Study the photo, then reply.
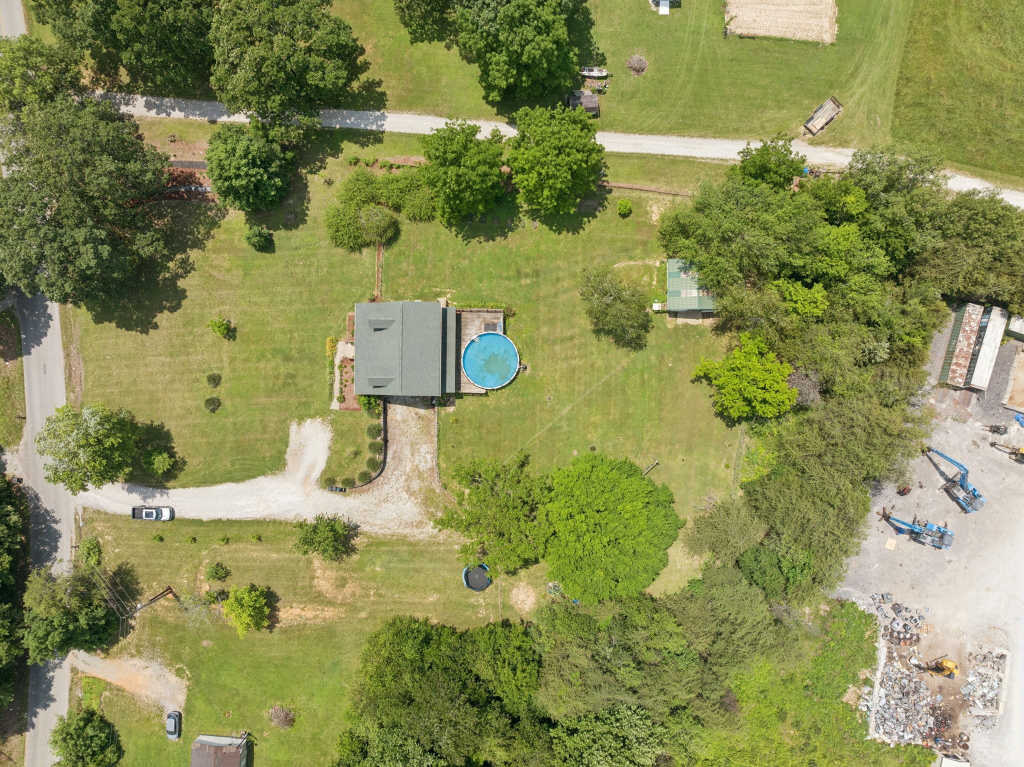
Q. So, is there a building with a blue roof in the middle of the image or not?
No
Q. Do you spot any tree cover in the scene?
Yes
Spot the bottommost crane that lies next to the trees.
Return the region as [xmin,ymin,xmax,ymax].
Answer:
[872,510,963,554]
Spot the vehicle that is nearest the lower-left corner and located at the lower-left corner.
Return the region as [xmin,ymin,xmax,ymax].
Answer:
[164,709,182,740]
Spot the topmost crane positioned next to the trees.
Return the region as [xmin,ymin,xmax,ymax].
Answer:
[920,435,988,518]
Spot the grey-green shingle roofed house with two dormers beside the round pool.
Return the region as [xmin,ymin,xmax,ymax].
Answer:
[352,300,456,396]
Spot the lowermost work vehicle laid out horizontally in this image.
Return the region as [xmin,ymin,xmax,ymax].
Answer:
[909,652,961,678]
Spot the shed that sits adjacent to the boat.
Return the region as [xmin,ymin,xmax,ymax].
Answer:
[569,92,599,118]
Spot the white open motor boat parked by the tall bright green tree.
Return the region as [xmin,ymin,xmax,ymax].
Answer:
[578,65,611,81]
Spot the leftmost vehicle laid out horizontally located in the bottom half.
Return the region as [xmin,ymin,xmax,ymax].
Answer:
[131,505,176,523]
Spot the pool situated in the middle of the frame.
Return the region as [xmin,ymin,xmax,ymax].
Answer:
[461,331,521,390]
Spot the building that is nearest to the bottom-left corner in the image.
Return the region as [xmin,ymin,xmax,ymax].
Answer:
[191,734,249,767]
